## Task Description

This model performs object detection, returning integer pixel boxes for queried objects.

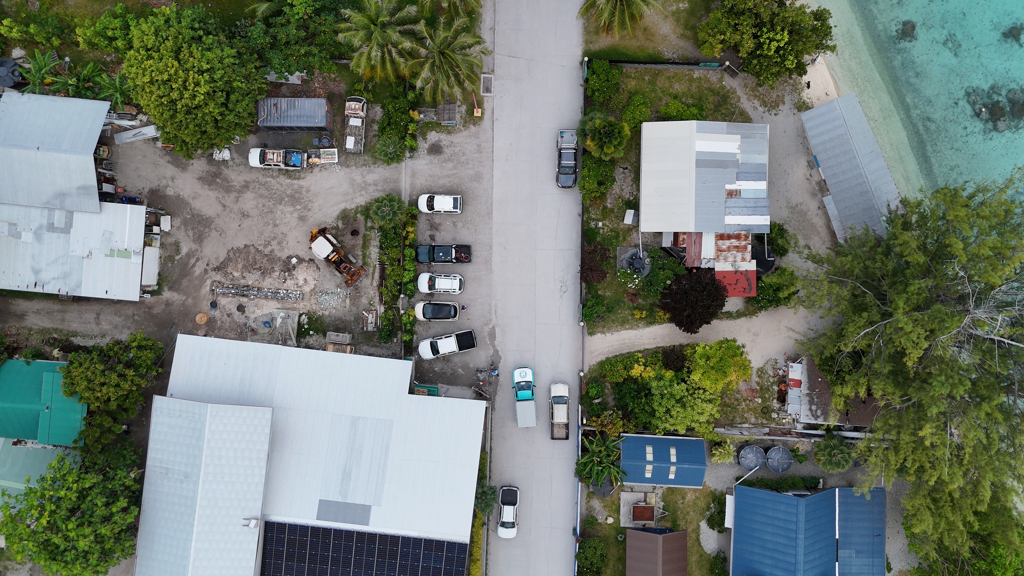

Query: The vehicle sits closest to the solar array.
[495,480,520,539]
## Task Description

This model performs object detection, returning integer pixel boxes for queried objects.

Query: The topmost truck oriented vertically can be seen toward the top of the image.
[341,96,367,154]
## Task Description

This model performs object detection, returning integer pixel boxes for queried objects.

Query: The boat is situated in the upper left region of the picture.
[94,145,113,159]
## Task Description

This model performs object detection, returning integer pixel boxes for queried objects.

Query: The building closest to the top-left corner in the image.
[0,93,110,214]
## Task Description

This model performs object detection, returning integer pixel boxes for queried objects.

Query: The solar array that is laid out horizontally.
[261,525,468,576]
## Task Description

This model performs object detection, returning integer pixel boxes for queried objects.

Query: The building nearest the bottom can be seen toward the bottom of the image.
[626,529,687,576]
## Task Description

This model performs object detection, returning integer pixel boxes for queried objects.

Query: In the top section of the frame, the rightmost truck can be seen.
[554,130,578,193]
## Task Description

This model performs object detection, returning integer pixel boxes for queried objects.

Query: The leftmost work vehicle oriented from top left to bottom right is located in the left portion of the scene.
[306,231,374,294]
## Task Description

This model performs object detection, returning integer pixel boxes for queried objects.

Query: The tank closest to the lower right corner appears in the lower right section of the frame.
[759,442,792,472]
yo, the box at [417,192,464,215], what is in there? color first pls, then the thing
white car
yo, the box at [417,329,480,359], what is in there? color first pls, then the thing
white truck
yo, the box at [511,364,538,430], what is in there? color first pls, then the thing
white truck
